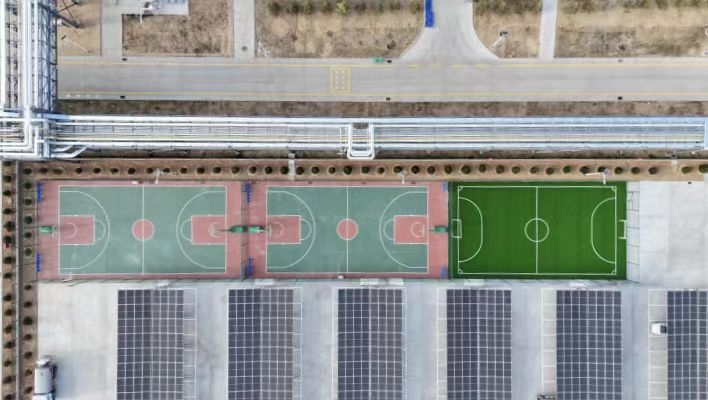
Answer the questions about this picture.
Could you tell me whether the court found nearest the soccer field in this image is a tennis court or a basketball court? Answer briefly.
basketball court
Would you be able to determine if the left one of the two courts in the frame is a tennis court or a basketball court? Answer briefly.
basketball court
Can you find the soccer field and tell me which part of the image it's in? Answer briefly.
right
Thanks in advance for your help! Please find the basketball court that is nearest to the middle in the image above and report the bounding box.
[247,181,449,280]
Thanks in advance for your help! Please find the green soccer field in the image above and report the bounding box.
[450,181,628,280]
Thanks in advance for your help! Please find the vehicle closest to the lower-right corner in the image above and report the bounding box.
[653,323,668,336]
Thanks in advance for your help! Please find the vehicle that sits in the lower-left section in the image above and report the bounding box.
[37,350,62,400]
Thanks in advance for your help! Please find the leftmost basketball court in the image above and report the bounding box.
[37,181,241,280]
